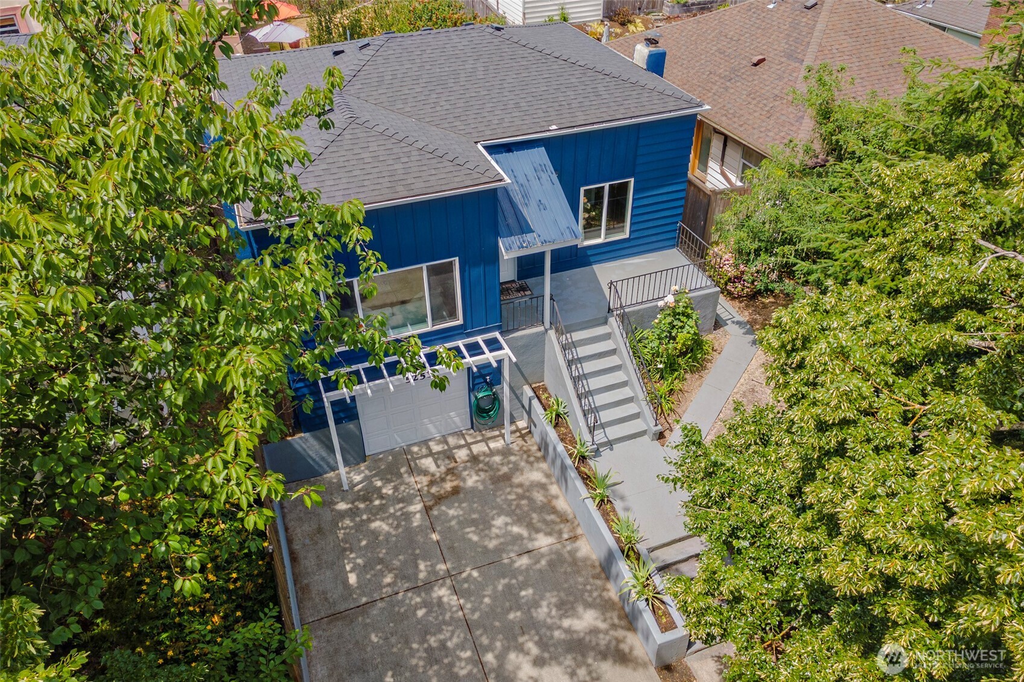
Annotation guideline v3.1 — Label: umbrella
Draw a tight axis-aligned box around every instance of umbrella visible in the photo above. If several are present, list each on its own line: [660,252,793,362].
[247,21,314,52]
[240,0,300,28]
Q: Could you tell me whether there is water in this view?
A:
No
